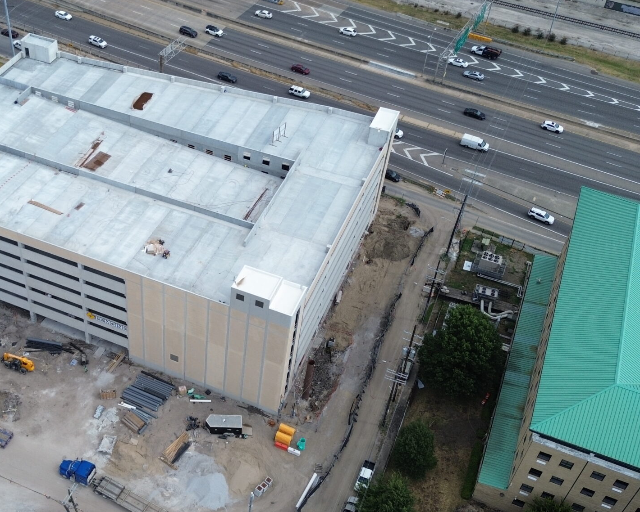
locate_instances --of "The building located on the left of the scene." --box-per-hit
[0,33,400,416]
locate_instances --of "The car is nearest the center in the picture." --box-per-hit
[385,170,403,183]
